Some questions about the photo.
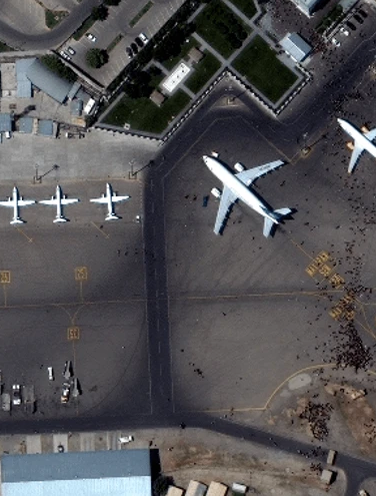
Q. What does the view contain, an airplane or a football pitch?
airplane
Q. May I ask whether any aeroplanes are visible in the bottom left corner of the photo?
No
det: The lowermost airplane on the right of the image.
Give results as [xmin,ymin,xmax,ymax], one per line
[203,155,293,237]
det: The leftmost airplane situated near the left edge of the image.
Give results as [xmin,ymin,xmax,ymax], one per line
[0,187,35,221]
